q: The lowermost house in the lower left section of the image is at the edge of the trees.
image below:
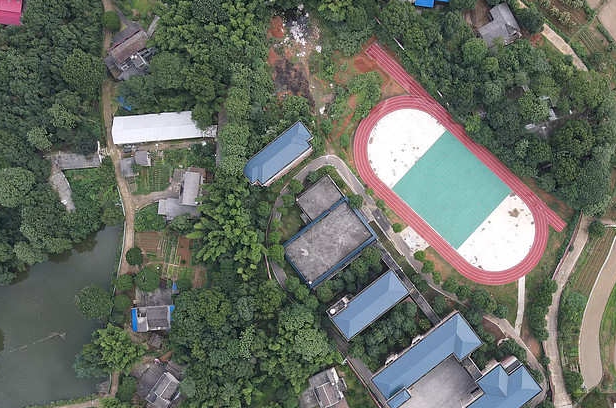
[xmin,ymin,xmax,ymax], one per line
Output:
[145,372,181,408]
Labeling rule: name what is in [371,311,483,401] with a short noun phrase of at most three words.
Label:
building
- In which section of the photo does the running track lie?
right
